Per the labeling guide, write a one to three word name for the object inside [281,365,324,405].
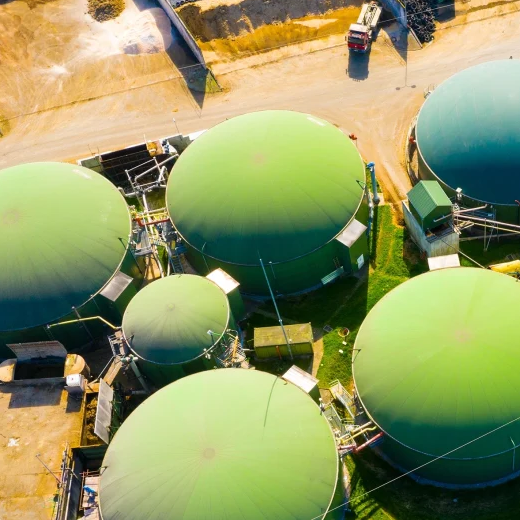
building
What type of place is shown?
industrial area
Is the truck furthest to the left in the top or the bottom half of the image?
top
